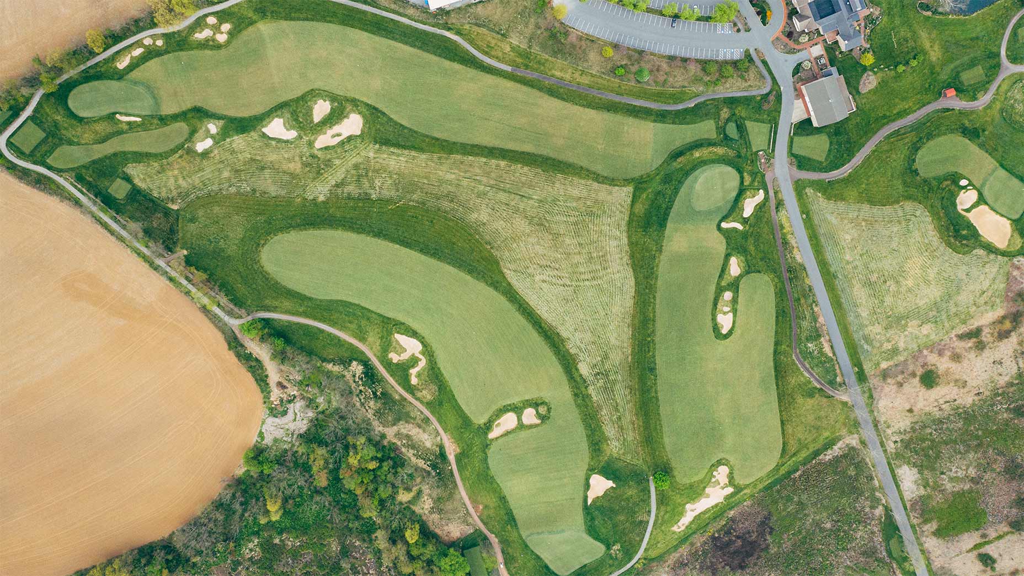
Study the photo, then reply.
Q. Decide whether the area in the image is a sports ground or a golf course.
golf course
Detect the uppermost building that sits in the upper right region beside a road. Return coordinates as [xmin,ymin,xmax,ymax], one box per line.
[789,0,867,54]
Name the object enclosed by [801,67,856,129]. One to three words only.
building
